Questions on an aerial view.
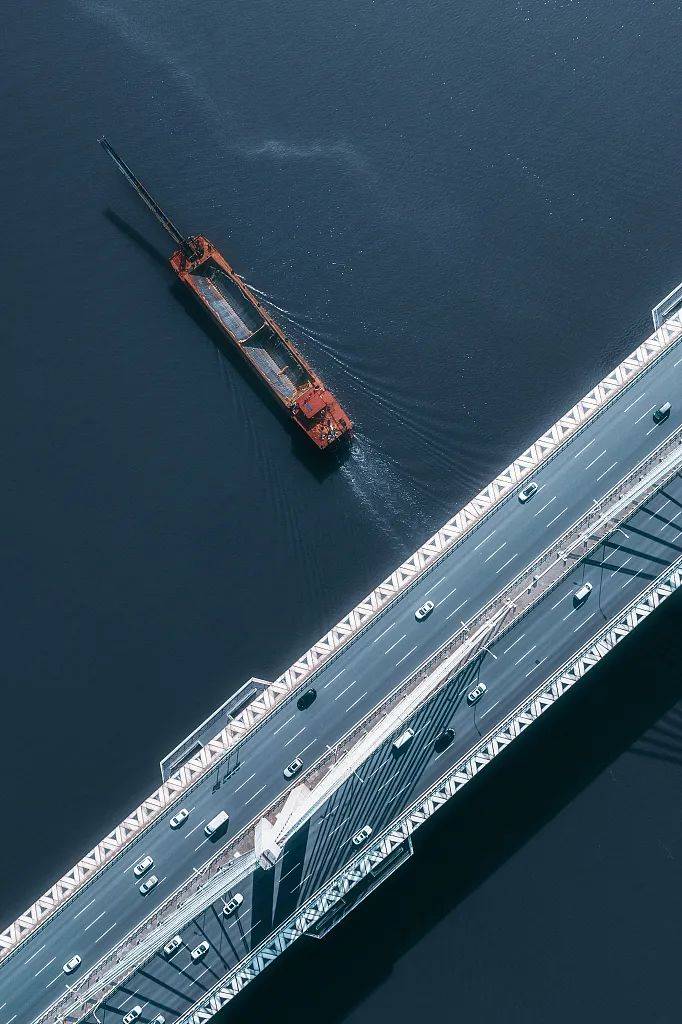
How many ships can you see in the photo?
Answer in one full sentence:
The picture shows 1 ship.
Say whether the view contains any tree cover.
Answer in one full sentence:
No, the scene doesn't show any tree cover.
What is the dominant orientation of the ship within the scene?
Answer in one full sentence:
I'd say the ship is aligned diagonally in the picture.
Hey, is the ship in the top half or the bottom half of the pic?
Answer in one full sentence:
The top half of the photo is where the ship is.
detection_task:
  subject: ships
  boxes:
[96,137,353,449]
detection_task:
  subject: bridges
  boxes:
[0,281,682,1024]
